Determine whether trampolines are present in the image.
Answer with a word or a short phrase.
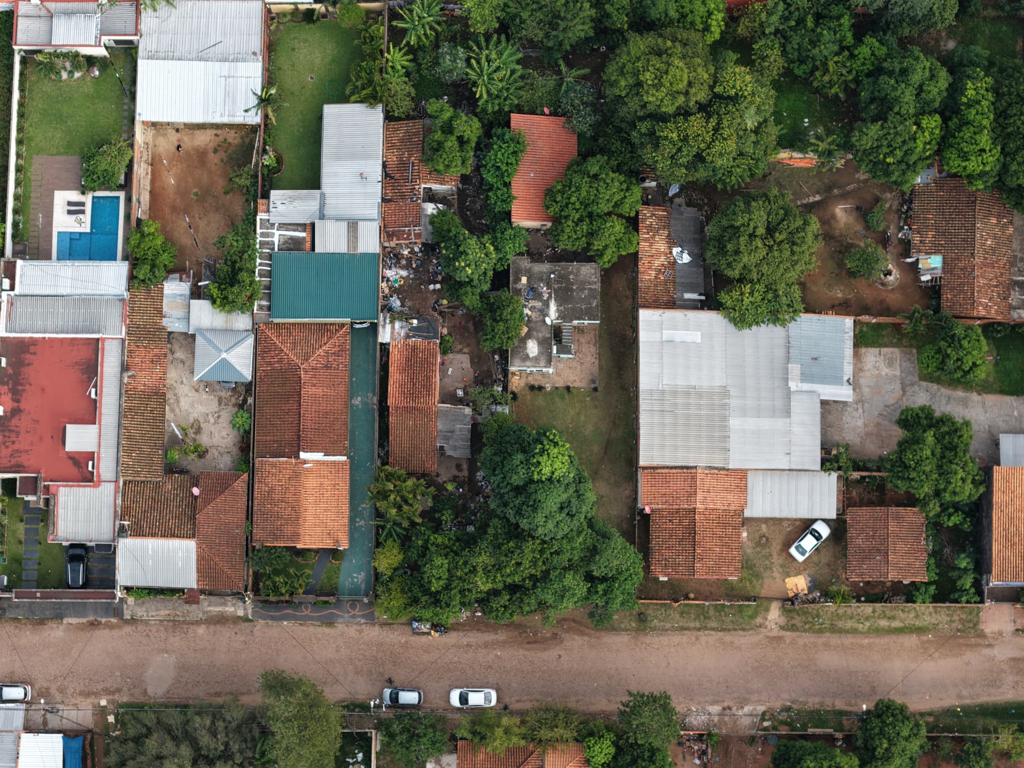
No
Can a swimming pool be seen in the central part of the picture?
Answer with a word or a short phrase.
No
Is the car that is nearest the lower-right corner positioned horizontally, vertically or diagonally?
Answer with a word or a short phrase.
diagonally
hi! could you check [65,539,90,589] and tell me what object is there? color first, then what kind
black car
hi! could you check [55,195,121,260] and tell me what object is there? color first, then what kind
blue swimming pool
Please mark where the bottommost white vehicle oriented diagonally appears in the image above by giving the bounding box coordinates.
[790,519,829,563]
